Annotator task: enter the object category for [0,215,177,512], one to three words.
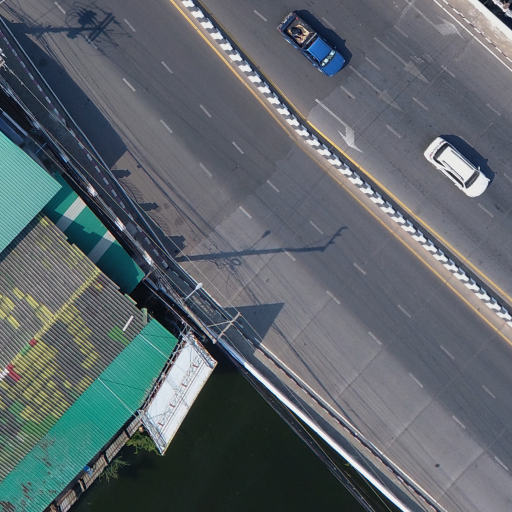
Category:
building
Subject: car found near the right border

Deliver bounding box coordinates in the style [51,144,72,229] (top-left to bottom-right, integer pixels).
[422,137,488,196]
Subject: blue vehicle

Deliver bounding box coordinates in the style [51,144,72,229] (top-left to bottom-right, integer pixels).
[275,12,344,75]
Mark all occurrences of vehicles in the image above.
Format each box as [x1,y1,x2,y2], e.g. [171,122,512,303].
[275,12,344,75]
[422,137,488,196]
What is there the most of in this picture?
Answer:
paved ground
